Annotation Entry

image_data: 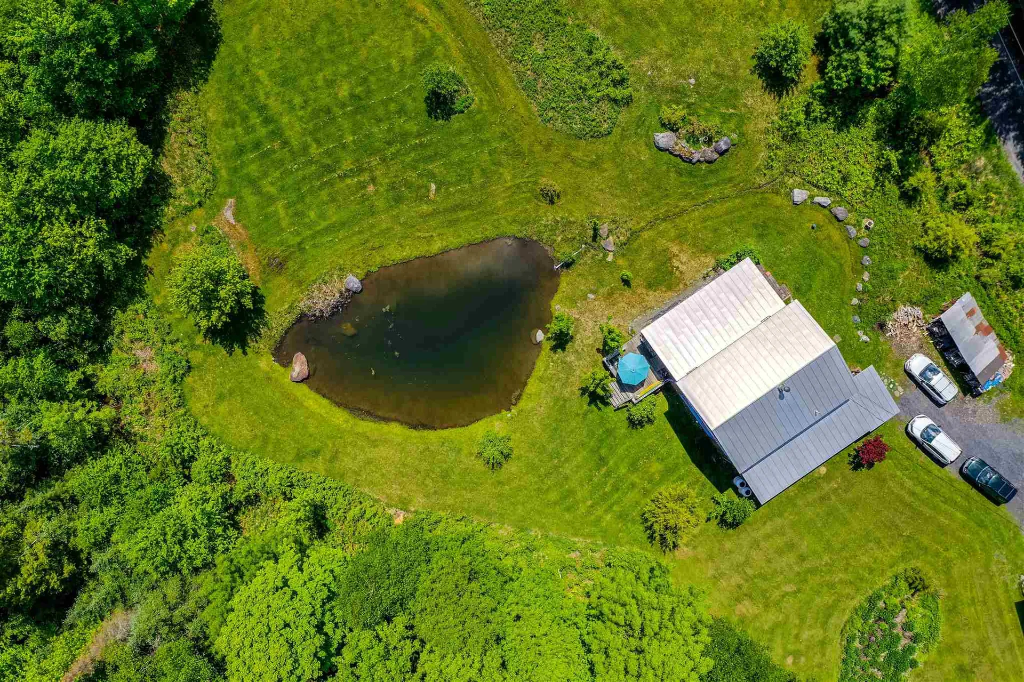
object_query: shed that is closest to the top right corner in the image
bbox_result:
[926,290,1009,387]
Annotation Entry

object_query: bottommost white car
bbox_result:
[905,414,963,466]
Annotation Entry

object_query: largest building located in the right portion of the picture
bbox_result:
[640,257,899,507]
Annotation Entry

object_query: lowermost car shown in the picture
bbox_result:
[958,456,1018,507]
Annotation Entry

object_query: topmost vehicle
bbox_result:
[902,353,960,405]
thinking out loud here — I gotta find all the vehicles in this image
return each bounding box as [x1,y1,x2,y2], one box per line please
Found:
[905,414,963,466]
[958,456,1018,507]
[902,353,960,405]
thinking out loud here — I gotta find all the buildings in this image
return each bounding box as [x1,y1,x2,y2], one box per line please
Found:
[926,290,1009,387]
[640,257,899,507]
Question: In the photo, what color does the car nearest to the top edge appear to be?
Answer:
white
